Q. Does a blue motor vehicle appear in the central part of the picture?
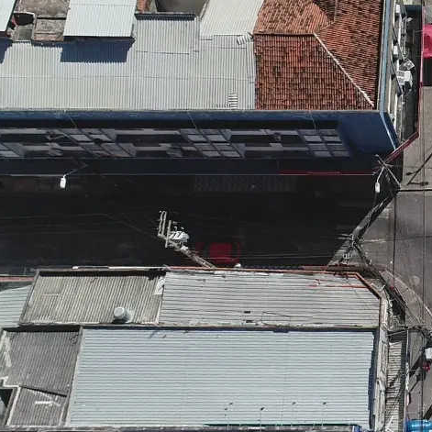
No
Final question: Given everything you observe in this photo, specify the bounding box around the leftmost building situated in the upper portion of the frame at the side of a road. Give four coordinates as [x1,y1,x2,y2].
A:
[0,0,423,173]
